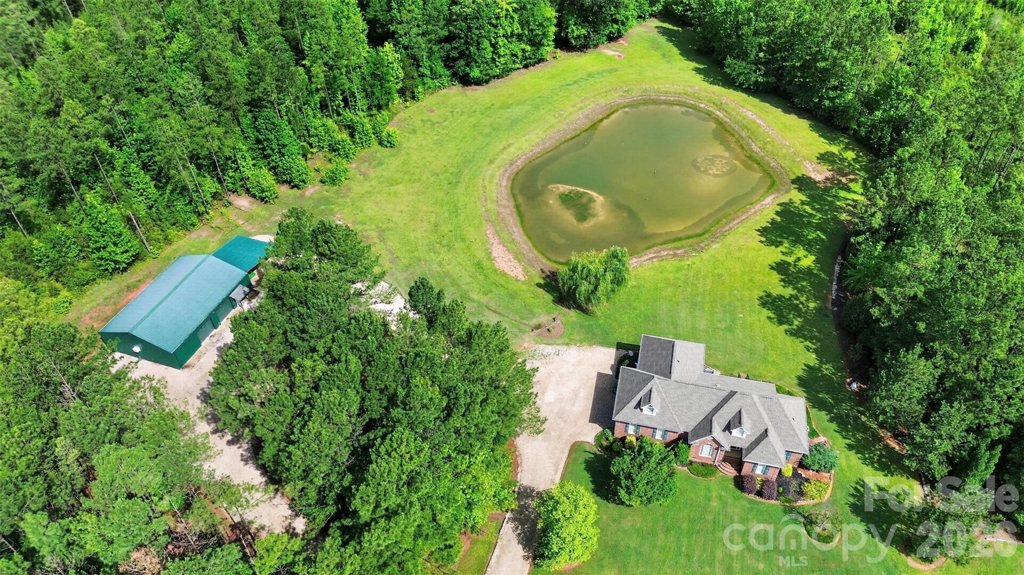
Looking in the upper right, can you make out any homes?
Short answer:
No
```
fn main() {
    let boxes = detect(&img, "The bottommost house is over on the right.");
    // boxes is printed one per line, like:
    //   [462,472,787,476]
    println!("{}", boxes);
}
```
[613,335,809,482]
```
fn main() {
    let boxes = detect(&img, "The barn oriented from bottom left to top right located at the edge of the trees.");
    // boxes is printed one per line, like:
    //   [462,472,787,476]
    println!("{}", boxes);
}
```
[98,232,272,369]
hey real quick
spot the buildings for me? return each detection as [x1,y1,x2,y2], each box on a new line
[98,232,272,369]
[613,335,809,482]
